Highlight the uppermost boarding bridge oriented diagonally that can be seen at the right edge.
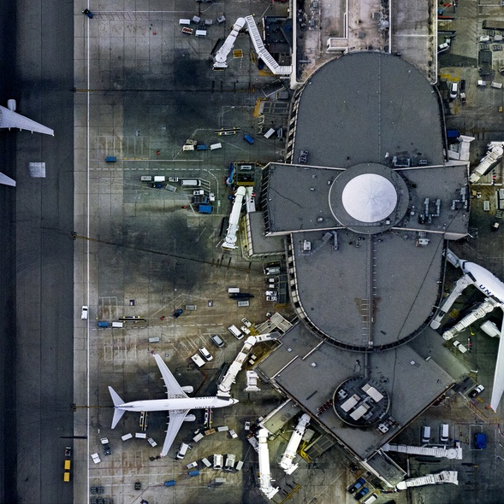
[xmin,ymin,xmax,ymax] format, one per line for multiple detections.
[469,135,504,186]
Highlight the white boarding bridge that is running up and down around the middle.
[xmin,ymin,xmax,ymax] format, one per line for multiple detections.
[219,183,247,253]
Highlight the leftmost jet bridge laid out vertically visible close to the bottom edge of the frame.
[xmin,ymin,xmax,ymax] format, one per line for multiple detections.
[253,427,285,504]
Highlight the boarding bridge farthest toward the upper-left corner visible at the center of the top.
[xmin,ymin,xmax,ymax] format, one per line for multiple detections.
[211,14,290,77]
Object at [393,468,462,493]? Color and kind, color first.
white jet bridge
